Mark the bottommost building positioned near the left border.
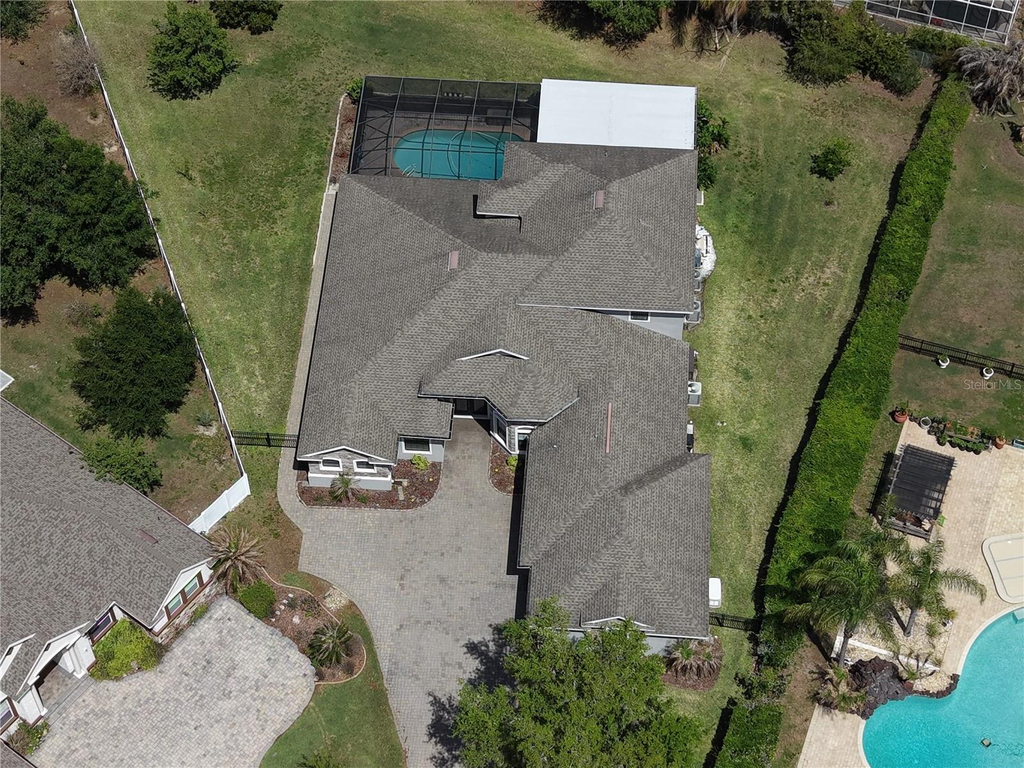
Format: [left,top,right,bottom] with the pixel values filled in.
[0,395,220,768]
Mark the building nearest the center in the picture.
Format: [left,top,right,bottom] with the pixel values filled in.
[293,139,713,654]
